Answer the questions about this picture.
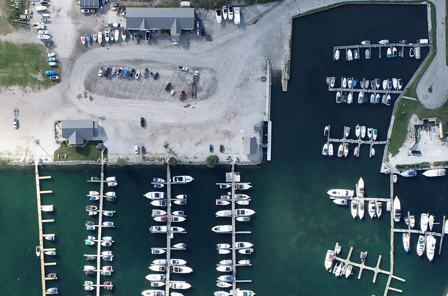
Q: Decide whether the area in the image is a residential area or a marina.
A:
marina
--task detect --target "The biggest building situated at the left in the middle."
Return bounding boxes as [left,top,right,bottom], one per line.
[61,118,100,147]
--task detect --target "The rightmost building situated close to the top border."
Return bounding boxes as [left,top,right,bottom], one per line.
[126,5,194,42]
